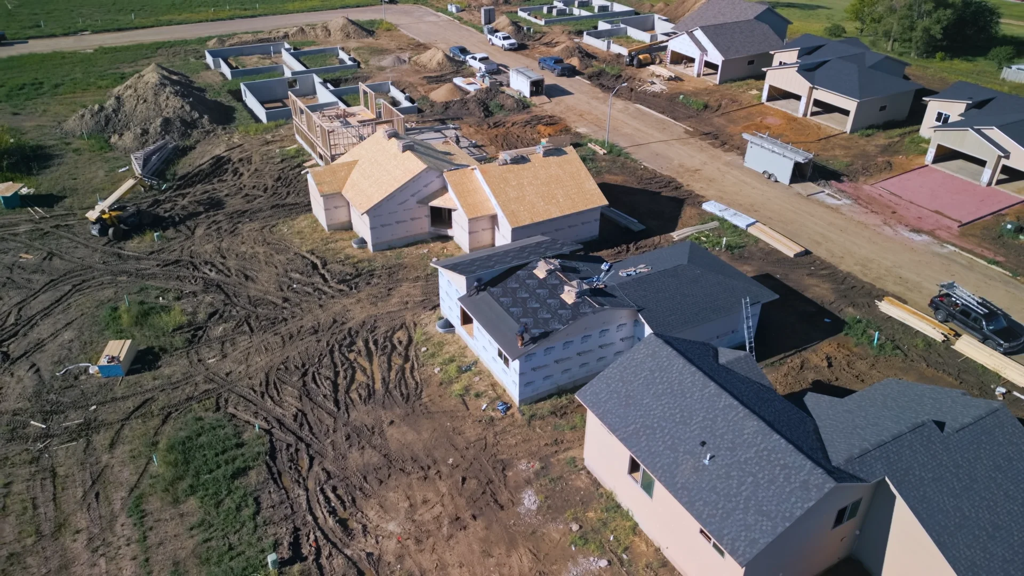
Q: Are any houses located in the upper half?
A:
Yes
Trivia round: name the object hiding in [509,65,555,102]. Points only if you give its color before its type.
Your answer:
white trailer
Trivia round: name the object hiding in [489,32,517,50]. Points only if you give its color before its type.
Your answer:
white vehicle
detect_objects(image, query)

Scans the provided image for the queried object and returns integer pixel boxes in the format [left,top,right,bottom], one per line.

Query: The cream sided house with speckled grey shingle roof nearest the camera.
[574,333,1024,576]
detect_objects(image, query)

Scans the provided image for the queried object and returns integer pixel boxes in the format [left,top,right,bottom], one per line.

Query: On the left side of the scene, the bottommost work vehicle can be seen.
[85,180,169,241]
